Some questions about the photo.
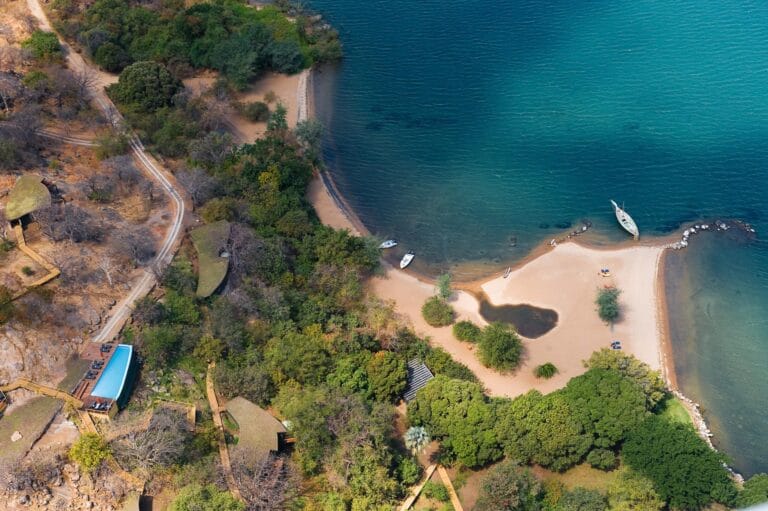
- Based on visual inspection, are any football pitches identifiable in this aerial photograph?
No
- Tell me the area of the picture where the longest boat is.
right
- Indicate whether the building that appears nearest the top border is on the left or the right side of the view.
left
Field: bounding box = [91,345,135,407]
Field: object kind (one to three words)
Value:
swimming pool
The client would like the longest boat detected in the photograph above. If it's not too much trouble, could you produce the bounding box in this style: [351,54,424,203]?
[614,197,641,239]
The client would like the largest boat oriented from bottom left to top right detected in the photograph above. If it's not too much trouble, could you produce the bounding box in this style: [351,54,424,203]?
[402,250,416,267]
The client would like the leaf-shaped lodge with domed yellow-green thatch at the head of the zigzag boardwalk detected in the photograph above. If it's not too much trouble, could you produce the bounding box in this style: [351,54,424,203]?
[5,175,52,224]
